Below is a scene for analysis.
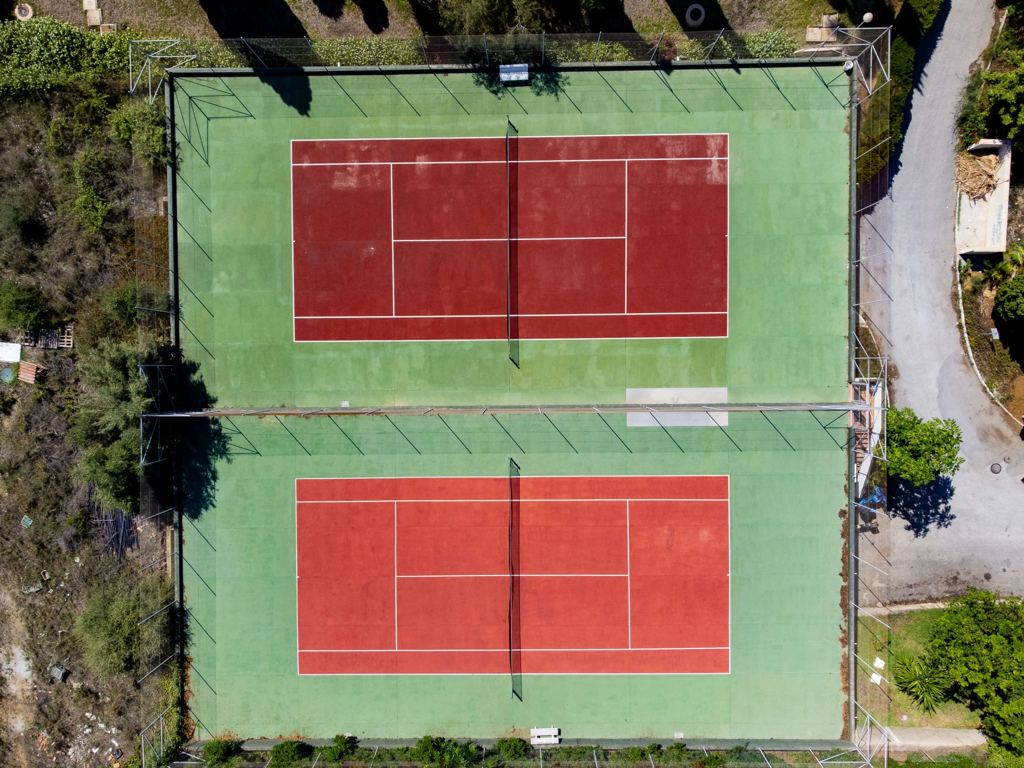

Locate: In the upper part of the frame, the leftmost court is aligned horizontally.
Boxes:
[175,66,849,407]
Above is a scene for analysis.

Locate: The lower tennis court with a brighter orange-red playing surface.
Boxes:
[181,407,849,740]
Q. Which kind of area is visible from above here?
sports ground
